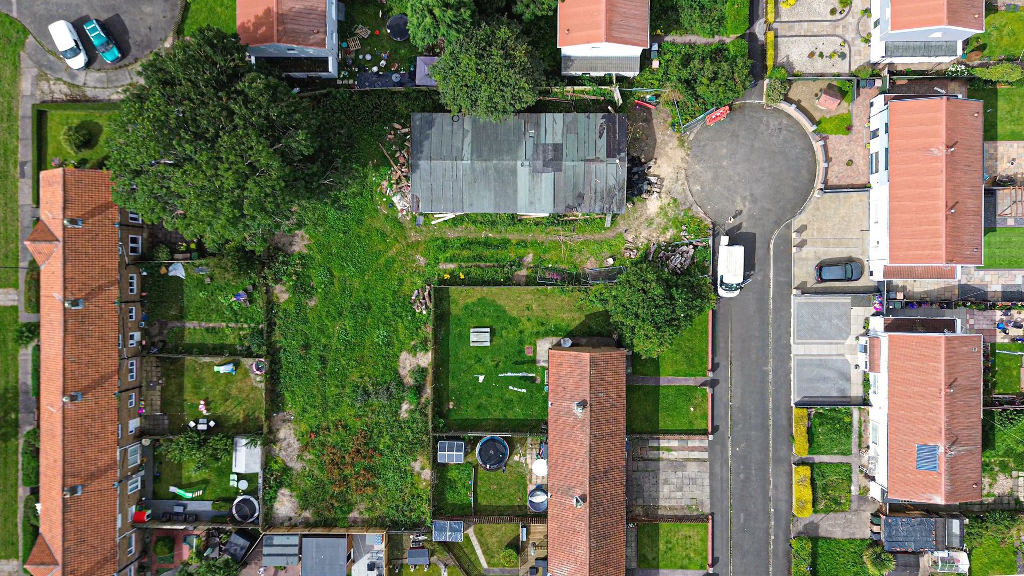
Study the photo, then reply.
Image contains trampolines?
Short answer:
Yes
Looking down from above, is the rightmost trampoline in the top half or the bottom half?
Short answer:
bottom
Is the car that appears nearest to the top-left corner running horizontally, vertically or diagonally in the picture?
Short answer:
diagonally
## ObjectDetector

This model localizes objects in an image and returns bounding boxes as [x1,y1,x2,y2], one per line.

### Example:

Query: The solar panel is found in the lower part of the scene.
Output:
[916,444,939,472]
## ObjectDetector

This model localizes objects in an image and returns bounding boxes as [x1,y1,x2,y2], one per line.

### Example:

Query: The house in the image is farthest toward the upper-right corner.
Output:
[870,0,985,60]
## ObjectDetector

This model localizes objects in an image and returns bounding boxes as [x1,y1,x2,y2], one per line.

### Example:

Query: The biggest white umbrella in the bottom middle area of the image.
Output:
[531,459,546,477]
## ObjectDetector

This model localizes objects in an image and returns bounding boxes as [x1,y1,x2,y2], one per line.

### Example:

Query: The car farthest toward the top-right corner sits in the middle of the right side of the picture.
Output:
[815,259,862,283]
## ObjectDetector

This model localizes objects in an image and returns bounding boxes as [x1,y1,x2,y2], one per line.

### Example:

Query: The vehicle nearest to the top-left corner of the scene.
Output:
[44,17,89,69]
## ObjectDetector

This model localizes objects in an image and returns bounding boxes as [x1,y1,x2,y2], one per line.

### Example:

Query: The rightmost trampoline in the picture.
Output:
[475,436,509,472]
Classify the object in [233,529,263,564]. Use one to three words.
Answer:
shed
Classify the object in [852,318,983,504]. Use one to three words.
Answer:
house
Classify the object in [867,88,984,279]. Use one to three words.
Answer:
house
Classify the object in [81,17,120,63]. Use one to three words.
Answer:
car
